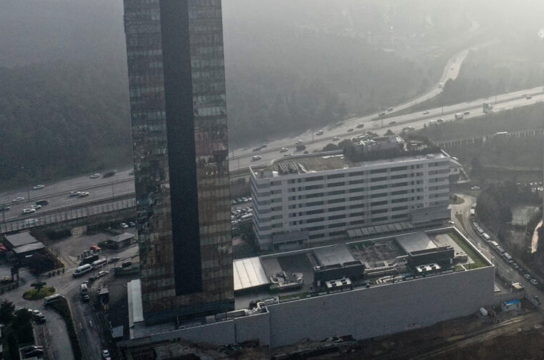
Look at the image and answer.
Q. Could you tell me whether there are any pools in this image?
No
